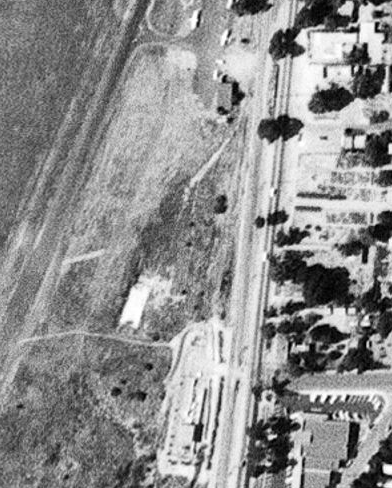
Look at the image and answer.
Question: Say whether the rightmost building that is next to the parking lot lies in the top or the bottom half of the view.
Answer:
bottom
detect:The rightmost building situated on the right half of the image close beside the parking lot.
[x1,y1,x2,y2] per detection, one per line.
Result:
[305,416,351,488]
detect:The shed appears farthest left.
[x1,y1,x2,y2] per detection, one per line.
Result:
[122,286,149,328]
